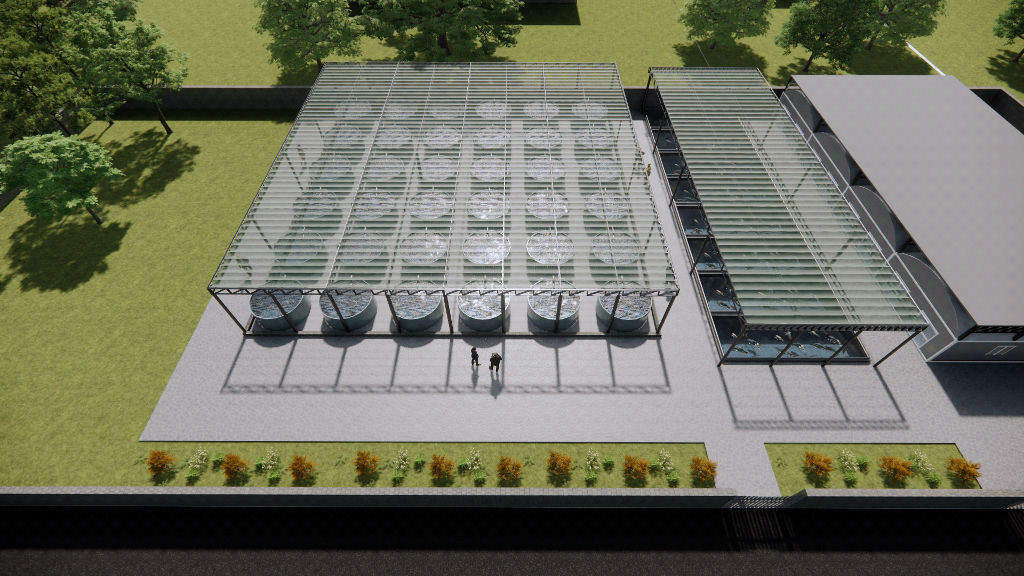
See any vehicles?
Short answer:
No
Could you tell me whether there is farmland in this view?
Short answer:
No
